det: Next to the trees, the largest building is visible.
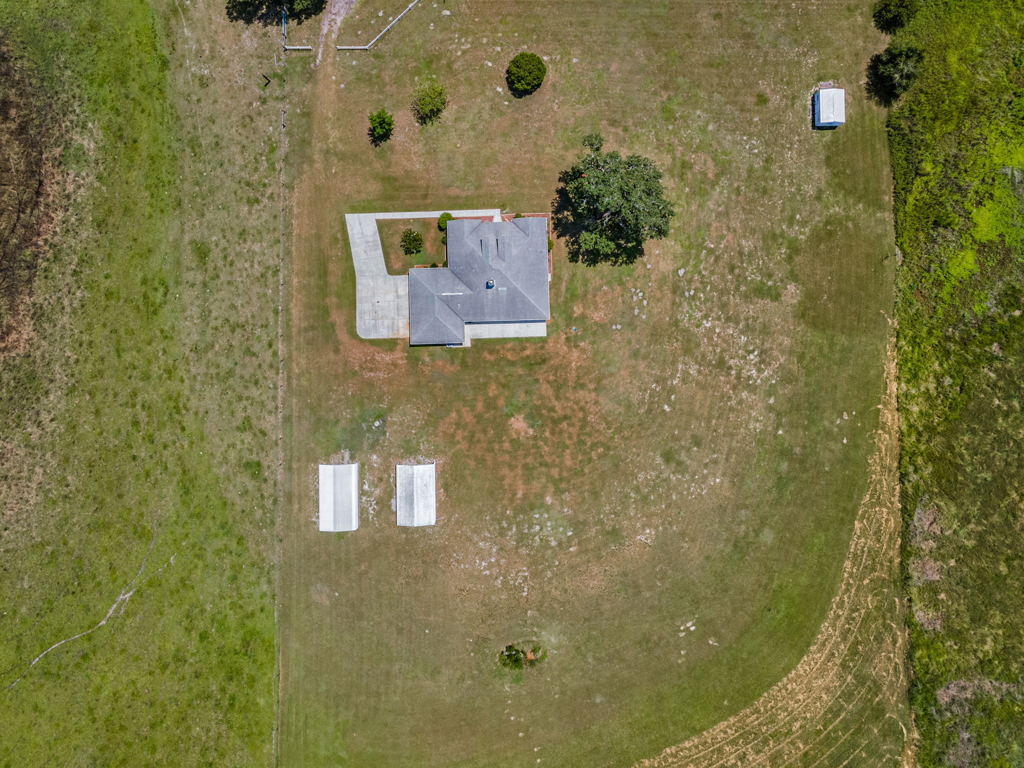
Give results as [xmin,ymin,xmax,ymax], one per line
[408,216,550,344]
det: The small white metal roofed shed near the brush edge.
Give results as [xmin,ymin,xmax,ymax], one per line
[815,85,849,125]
